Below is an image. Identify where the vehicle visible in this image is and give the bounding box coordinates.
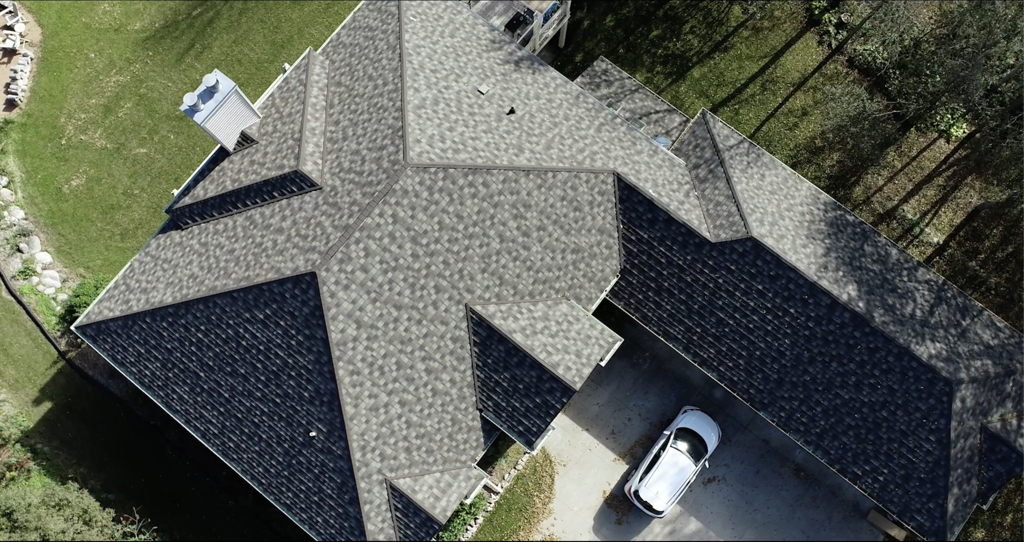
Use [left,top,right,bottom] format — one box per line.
[621,407,717,518]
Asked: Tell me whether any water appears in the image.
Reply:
No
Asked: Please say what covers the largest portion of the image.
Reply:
buildings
